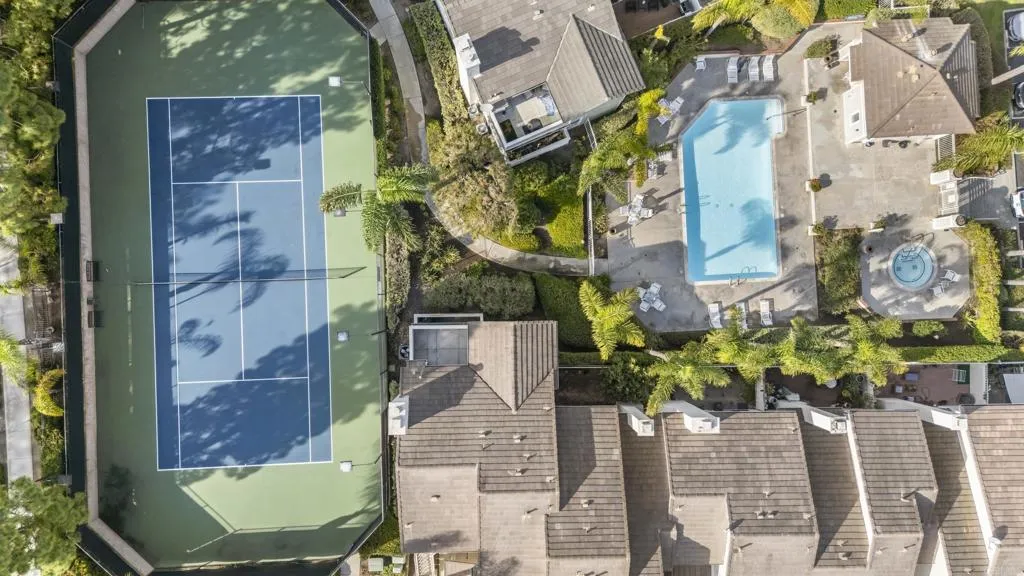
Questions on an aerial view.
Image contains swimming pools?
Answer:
Yes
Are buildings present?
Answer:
Yes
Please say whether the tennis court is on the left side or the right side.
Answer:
left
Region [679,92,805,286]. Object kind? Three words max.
swimming pool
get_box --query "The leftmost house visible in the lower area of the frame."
[388,312,559,576]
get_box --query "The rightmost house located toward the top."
[833,23,981,146]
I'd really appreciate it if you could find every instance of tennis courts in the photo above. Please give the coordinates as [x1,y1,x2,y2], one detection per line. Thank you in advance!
[86,0,392,571]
